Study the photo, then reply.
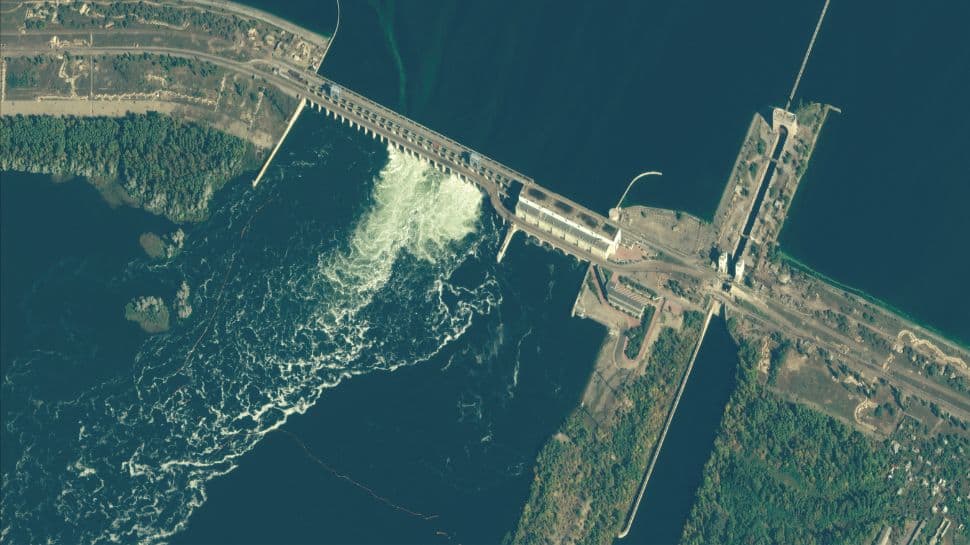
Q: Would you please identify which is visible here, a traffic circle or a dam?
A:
dam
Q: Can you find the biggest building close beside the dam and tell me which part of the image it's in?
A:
center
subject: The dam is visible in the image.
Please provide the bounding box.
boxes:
[296,72,531,193]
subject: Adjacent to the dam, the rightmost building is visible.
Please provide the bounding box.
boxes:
[512,181,633,260]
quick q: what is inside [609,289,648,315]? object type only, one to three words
building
